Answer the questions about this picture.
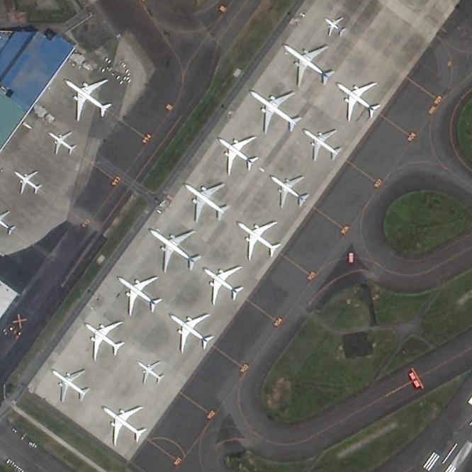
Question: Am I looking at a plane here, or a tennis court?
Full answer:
This aerial view contains a plane.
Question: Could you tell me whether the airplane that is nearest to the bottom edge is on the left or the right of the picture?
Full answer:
The airplane that is nearest to the bottom edge sits on the left side.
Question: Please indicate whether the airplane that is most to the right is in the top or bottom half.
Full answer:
The airplane that is most to the right sits in the top half of the picture.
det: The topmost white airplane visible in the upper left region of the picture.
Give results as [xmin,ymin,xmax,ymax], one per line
[66,80,111,118]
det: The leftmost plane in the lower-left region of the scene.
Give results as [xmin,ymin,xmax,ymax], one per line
[51,369,89,400]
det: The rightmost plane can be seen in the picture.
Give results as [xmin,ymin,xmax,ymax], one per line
[336,81,380,120]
